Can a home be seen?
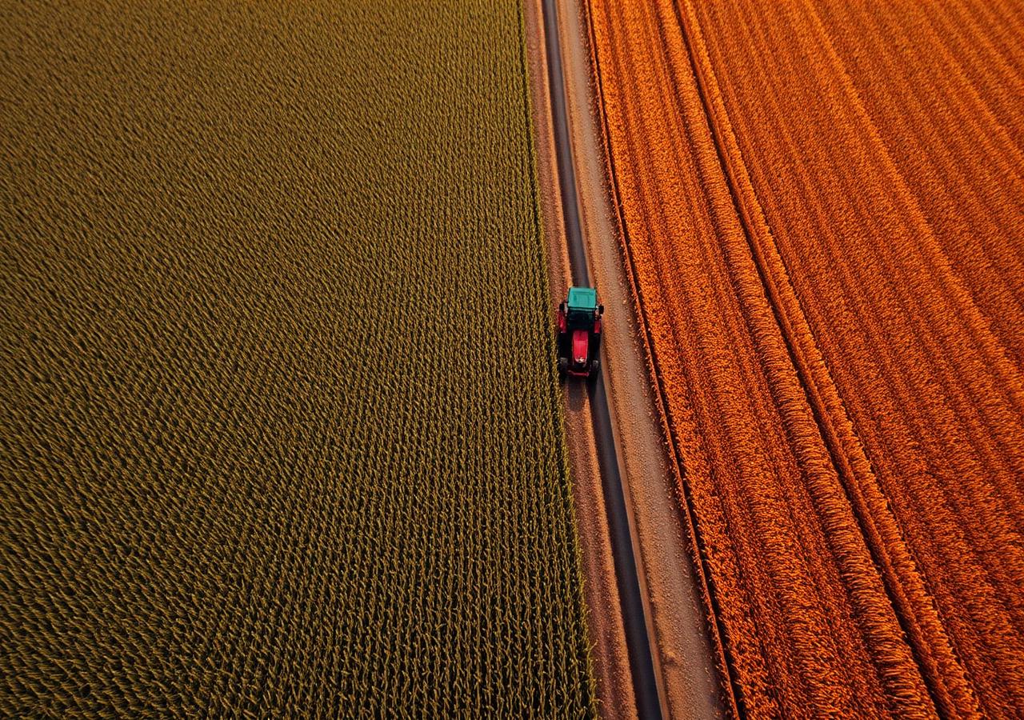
No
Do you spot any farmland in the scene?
Yes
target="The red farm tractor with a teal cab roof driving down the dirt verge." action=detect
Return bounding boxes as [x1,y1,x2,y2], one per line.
[556,289,604,378]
